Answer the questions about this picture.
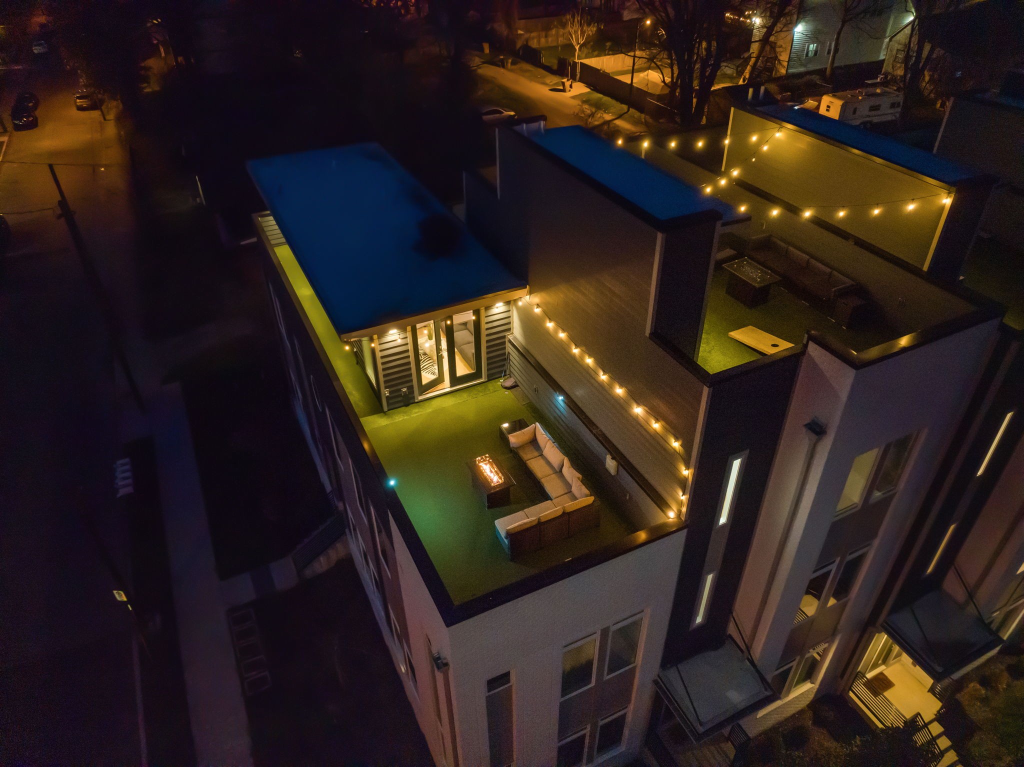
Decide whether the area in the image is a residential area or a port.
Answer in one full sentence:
This looks like a residential area.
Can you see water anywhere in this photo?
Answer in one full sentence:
No, there's no water in this view.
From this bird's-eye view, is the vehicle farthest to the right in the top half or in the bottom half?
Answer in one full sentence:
You can find the vehicle farthest to the right in the top half.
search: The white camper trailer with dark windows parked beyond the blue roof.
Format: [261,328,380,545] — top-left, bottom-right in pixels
[818,91,897,125]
